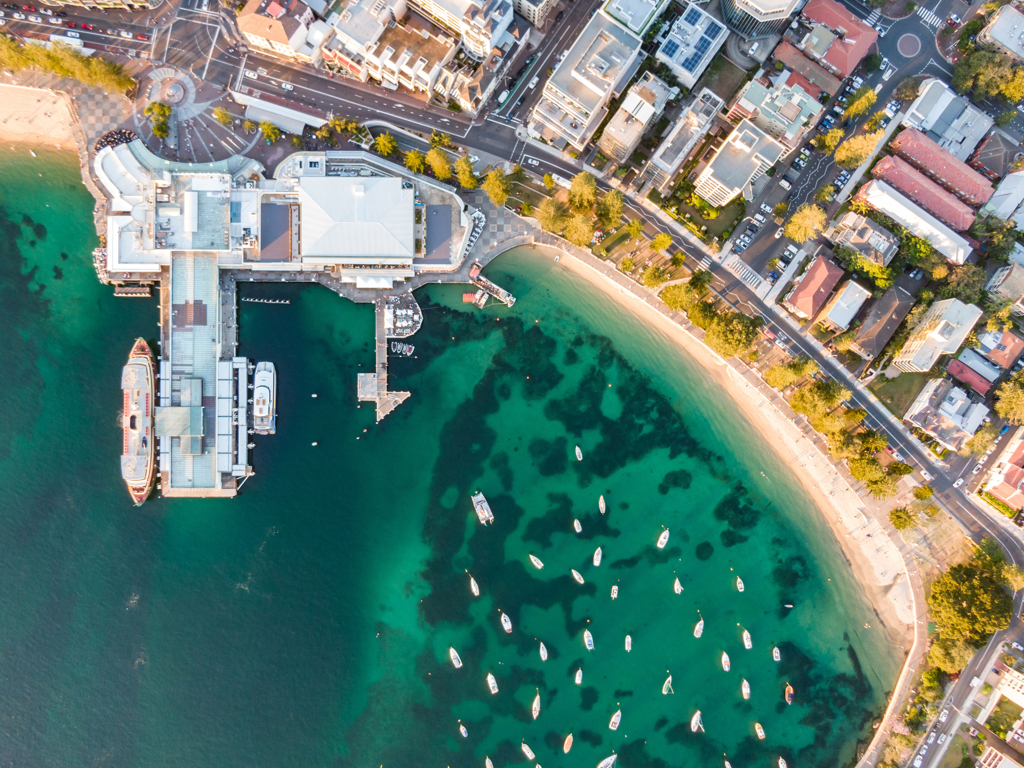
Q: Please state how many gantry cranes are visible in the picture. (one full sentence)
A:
The photo contains no gantry cranes.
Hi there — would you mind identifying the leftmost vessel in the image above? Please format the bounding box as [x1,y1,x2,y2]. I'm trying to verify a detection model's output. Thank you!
[120,337,159,507]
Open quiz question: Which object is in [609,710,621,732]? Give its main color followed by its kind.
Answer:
white boat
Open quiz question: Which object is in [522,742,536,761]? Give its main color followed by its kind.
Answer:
white boat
